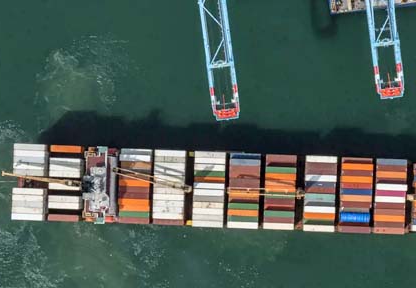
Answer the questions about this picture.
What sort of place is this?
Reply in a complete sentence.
What you see here is a port.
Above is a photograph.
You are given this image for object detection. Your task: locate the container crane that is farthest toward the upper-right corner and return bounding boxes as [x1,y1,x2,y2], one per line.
[364,0,404,100]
